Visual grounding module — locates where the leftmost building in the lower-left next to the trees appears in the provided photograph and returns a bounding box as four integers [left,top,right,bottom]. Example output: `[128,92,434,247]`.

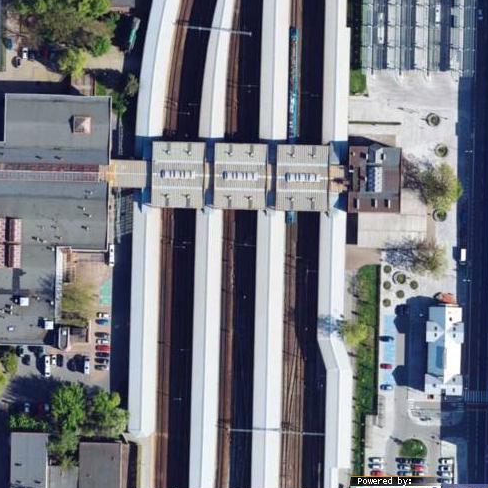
[10,433,48,488]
